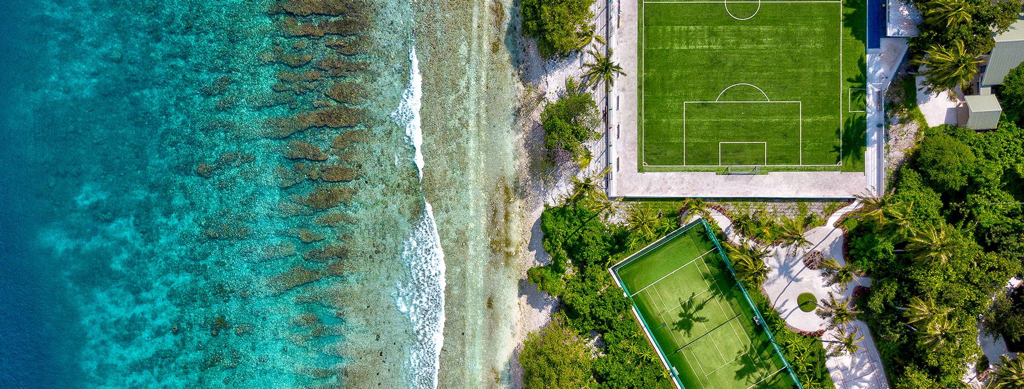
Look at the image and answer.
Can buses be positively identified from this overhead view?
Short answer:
No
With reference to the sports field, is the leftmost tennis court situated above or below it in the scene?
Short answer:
below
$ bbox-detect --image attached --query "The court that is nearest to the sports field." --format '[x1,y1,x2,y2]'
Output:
[609,219,794,389]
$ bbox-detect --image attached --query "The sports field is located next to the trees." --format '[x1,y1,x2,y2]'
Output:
[619,0,867,196]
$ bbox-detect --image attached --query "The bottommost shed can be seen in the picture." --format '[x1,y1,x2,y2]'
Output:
[958,95,1003,130]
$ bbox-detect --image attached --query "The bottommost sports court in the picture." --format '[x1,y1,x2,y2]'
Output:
[824,320,890,389]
